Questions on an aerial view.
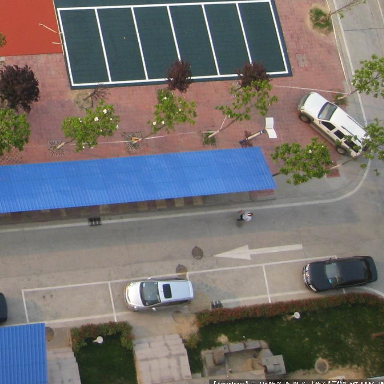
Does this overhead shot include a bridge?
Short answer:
No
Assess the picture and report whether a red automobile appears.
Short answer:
No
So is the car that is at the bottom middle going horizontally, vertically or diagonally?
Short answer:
horizontally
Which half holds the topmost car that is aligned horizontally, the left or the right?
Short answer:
right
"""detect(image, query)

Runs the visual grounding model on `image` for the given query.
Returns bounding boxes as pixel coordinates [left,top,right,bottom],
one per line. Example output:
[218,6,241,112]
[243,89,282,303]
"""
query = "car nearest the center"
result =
[121,274,200,314]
